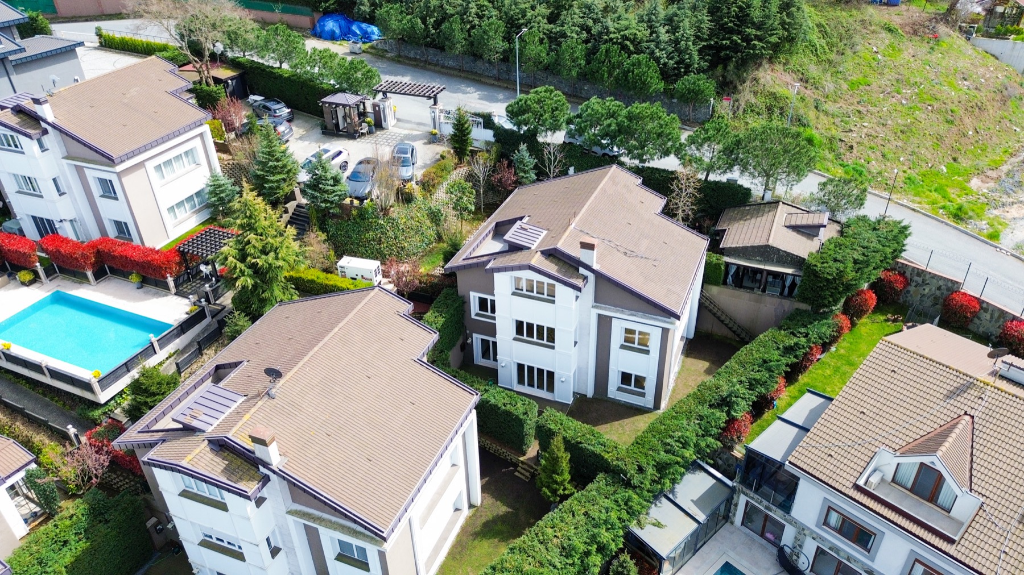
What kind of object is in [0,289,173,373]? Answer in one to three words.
swimming pool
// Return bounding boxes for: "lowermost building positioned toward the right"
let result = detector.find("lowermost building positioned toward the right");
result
[728,320,1024,575]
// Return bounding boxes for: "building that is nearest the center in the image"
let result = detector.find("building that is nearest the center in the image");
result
[444,163,709,410]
